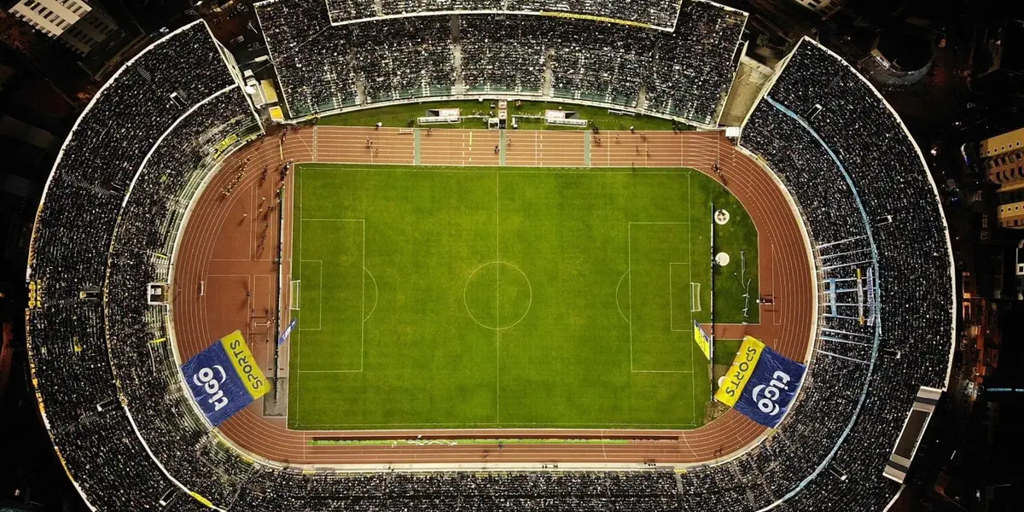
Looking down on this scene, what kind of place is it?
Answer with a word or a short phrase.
sports ground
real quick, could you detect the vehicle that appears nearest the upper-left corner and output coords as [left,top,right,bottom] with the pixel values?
[154,23,172,35]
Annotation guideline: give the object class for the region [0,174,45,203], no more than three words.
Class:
building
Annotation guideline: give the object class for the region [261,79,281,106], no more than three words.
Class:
shed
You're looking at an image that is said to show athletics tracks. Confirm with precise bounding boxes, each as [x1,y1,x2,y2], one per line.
[173,126,813,463]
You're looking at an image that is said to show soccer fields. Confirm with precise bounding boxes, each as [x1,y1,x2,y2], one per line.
[286,100,761,432]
